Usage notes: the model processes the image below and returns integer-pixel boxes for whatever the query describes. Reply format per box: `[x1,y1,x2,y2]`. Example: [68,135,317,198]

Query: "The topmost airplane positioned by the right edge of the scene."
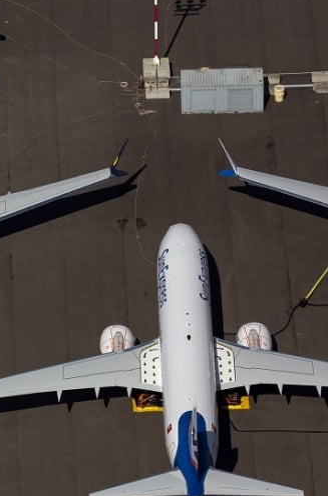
[220,140,328,206]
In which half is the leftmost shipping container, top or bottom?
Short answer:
top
